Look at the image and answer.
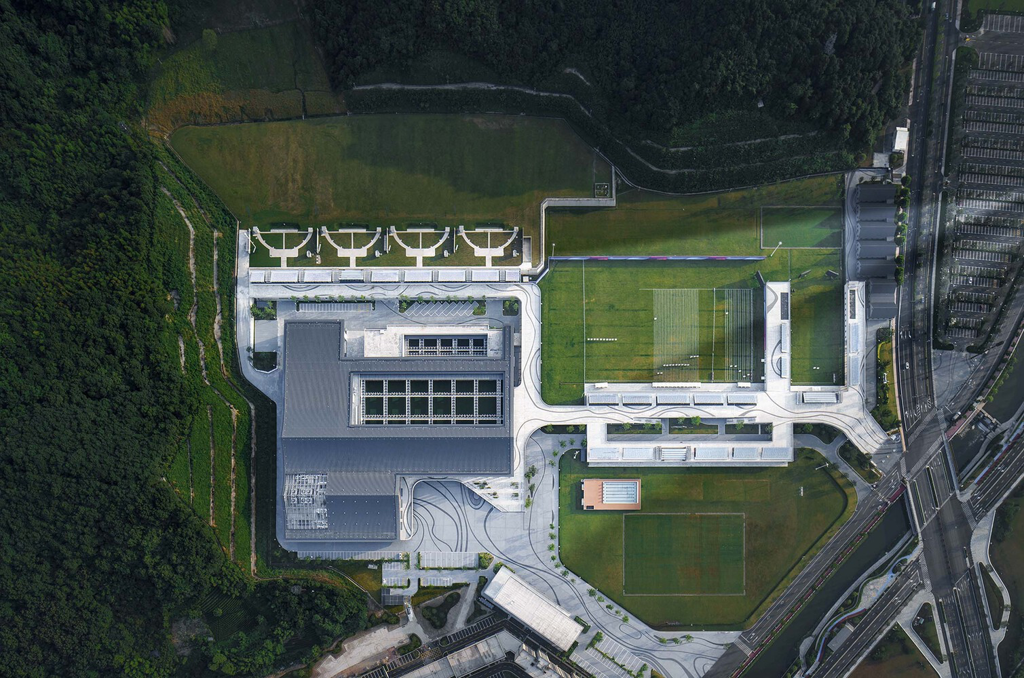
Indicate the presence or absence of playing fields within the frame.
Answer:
Yes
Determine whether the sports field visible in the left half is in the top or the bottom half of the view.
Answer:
top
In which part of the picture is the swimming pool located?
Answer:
bottom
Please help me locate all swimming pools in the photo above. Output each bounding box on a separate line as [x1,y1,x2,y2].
[581,479,641,510]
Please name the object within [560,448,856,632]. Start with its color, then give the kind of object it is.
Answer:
green sports field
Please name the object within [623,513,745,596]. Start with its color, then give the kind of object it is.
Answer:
green soccer field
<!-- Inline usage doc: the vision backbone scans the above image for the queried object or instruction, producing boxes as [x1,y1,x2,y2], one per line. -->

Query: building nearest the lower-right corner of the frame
[825,623,854,652]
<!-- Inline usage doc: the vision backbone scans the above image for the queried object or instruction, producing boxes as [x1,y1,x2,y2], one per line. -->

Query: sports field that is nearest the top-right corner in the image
[542,173,845,403]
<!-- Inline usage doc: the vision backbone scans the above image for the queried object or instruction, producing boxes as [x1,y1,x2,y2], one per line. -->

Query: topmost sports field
[171,112,613,266]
